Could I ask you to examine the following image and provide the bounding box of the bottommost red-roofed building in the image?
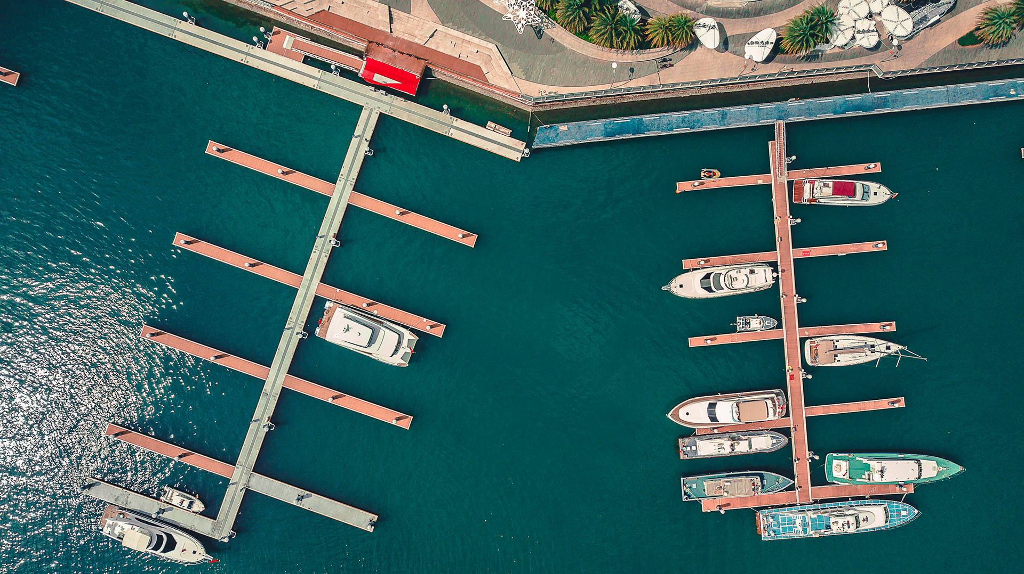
[356,38,425,100]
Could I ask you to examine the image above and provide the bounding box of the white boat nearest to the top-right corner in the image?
[792,178,898,207]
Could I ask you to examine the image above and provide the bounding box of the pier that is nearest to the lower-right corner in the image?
[811,483,914,499]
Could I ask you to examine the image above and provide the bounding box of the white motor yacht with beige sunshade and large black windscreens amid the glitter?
[99,505,219,567]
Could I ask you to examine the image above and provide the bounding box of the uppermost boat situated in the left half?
[315,301,418,366]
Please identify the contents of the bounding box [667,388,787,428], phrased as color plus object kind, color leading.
white boat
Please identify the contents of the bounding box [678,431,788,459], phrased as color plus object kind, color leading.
white boat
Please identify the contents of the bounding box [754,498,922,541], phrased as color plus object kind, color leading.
white ship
